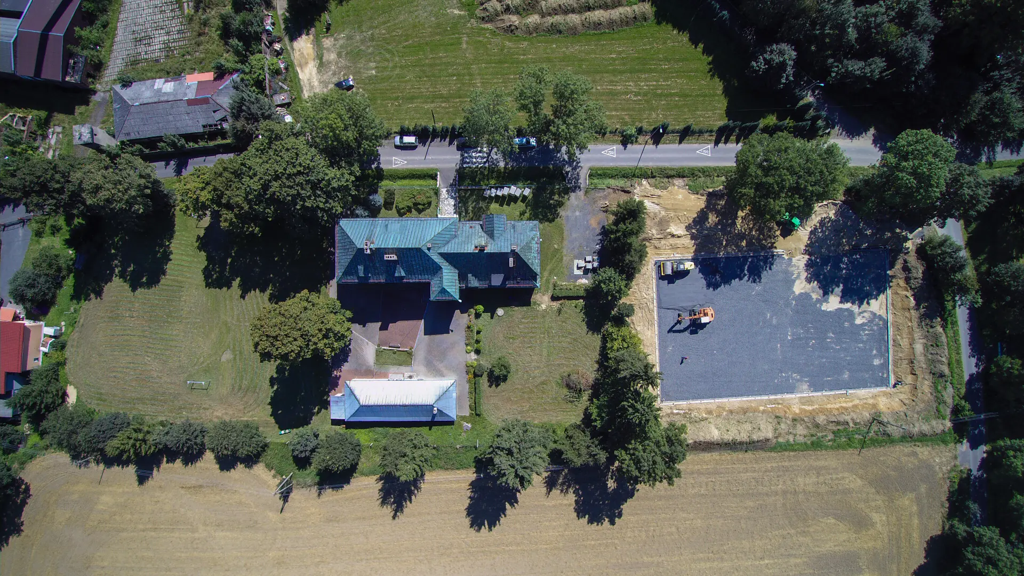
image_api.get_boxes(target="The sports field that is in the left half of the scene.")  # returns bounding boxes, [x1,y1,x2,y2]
[66,193,340,428]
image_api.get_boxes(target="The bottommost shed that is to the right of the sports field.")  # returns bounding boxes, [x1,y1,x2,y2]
[331,372,457,422]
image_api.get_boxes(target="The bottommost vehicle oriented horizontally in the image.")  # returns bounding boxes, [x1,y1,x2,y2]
[677,310,715,326]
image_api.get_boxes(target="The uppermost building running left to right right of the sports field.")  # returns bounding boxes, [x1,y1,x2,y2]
[336,214,542,302]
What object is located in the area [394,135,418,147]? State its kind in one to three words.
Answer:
vehicle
